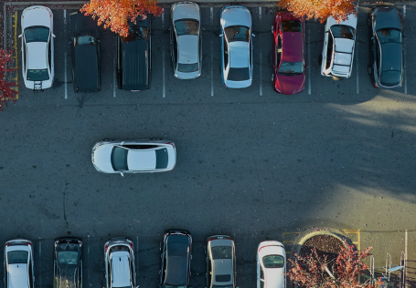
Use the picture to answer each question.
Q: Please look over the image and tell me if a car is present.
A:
Yes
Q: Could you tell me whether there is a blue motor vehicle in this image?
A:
Yes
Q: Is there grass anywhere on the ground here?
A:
No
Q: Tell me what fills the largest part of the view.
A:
paved ground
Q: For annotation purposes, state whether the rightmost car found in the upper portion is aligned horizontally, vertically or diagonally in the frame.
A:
vertically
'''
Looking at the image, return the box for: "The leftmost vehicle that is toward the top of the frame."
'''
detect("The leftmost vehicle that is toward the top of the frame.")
[17,4,56,89]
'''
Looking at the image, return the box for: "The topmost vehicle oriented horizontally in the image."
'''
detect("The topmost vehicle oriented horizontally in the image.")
[92,137,177,177]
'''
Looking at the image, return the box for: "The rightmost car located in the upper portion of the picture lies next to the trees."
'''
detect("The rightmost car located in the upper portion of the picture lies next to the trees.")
[367,4,408,89]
